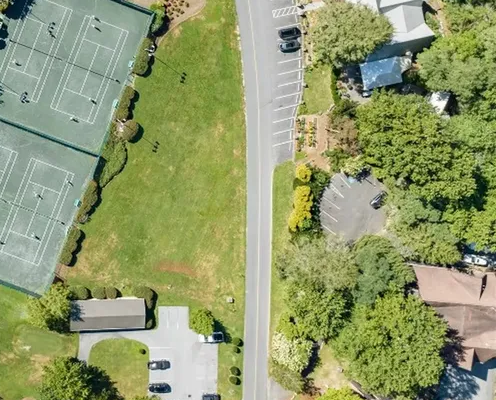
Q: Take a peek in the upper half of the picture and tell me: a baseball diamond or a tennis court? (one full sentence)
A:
What appears in the upper half of the picture is a tennis court.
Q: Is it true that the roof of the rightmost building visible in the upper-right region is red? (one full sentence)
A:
No, from above the roof of the rightmost building visible in the upper-right region looks white.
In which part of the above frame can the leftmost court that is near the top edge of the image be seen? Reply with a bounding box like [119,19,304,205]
[0,0,85,130]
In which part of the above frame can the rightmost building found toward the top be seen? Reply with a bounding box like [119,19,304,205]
[422,91,450,113]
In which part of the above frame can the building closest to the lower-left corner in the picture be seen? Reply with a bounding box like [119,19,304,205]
[70,295,147,331]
